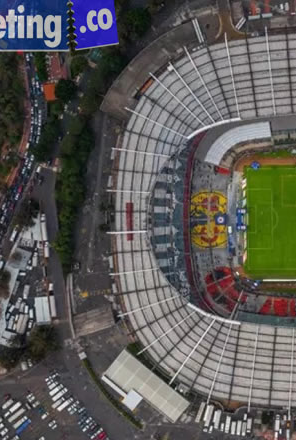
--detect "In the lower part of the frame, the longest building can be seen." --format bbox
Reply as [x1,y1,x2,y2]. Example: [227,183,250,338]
[102,346,193,423]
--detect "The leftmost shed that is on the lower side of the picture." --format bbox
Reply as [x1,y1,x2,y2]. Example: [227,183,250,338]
[34,296,55,324]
